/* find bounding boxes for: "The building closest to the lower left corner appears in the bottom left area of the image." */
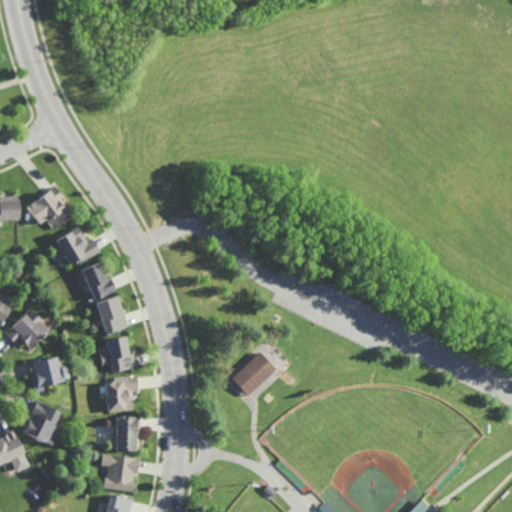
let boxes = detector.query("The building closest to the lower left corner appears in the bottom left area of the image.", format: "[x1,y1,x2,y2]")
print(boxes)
[0,428,33,474]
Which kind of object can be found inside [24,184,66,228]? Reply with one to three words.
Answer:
house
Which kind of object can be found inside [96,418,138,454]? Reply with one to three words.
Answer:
house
